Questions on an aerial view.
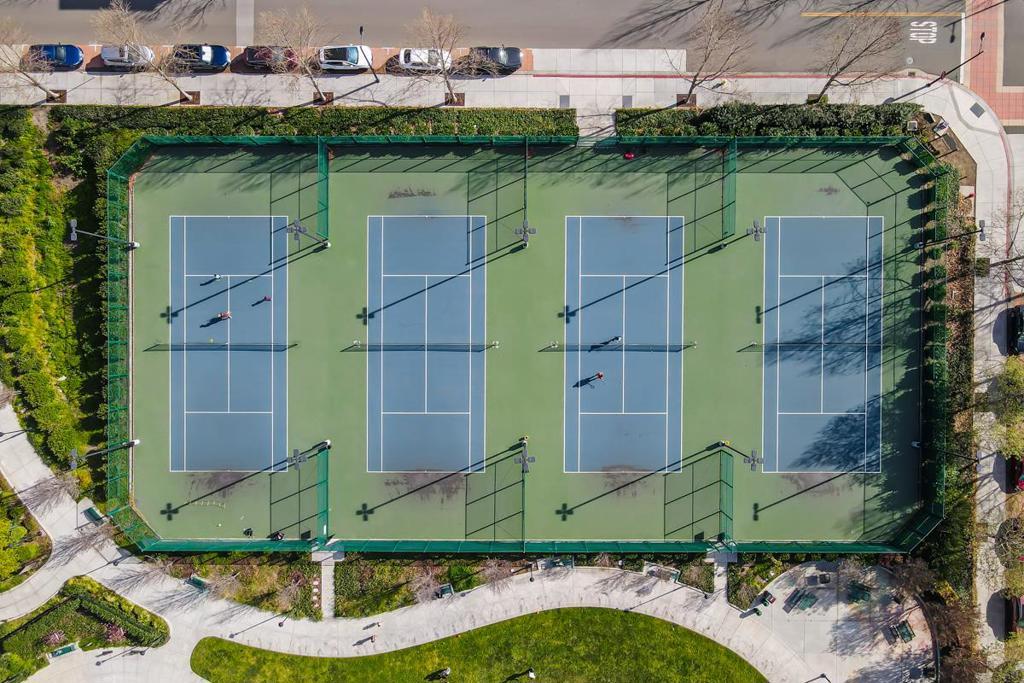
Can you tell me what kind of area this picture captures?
sports ground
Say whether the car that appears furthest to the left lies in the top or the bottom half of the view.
top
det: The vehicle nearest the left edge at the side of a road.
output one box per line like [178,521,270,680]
[30,44,83,69]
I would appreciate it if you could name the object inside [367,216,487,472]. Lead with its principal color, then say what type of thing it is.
blue tennis court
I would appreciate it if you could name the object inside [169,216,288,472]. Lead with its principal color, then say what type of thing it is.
blue tennis court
